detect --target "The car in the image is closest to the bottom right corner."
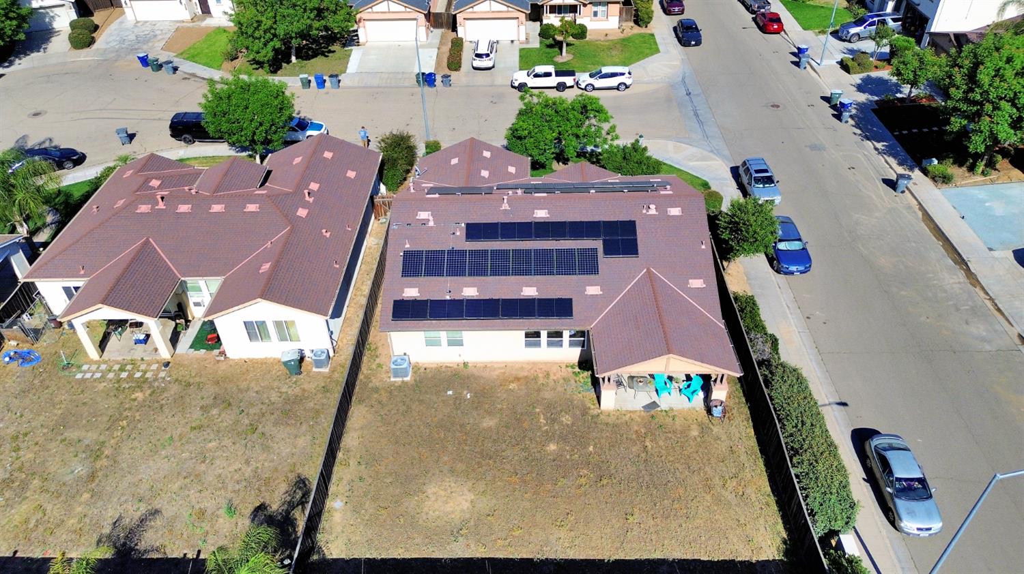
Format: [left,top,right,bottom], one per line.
[863,430,945,535]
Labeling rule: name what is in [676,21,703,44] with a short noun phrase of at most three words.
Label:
car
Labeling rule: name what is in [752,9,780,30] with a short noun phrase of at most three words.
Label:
car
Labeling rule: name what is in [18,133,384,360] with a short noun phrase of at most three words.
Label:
house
